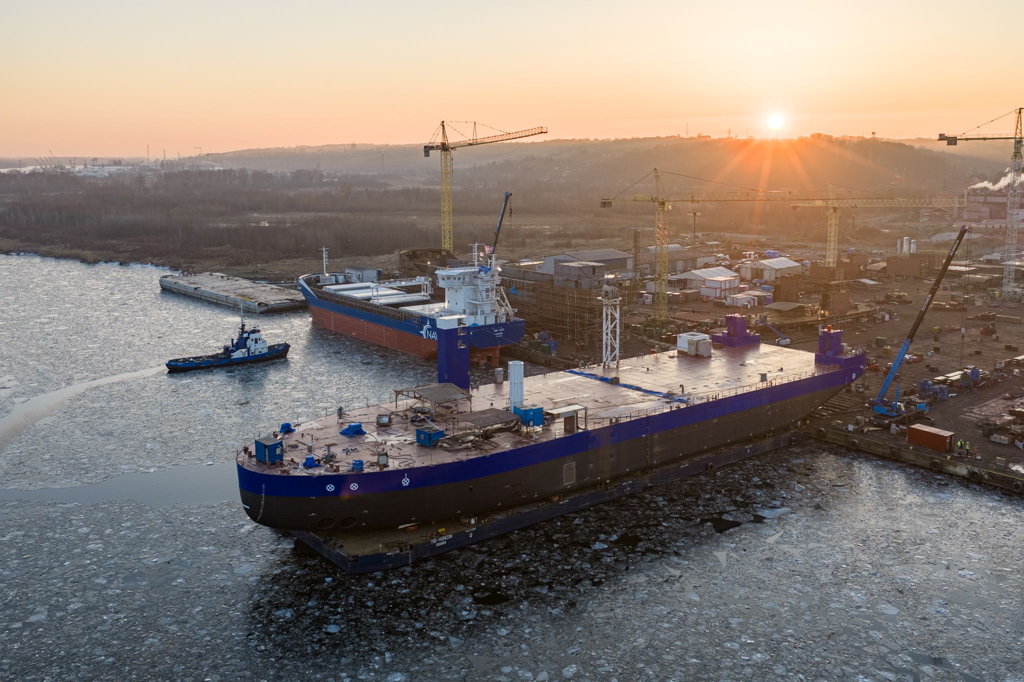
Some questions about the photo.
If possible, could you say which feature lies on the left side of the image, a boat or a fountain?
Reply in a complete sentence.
The feature located on the left side of the image is a boat.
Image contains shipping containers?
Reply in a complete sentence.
Yes, there's a shipping container down there.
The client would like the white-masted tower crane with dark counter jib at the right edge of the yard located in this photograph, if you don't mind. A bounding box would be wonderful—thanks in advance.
[936,108,1024,301]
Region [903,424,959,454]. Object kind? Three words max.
shipping container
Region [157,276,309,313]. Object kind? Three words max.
pier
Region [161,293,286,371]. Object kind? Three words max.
boat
